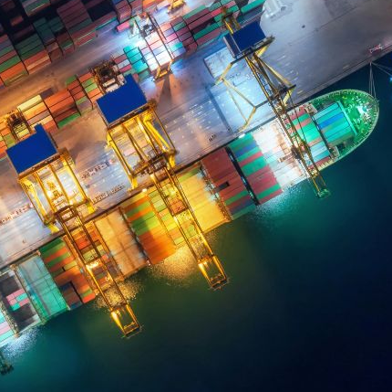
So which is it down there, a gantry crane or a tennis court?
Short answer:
gantry crane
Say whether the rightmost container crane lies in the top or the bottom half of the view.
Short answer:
top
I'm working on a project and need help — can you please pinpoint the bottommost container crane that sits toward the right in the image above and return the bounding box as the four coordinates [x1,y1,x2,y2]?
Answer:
[214,8,334,200]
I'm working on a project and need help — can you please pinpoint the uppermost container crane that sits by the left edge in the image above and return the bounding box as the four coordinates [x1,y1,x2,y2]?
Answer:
[6,112,144,338]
